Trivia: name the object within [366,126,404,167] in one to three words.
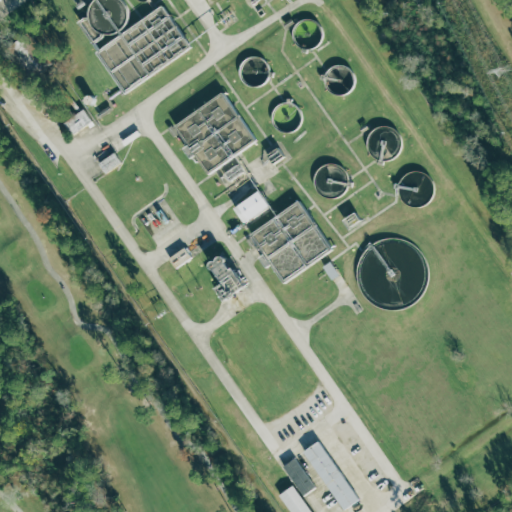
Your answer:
storage tank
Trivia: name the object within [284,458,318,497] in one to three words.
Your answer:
building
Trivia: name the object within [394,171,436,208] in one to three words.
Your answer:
storage tank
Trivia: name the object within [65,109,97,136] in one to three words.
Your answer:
building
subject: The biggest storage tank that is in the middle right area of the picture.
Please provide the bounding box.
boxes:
[357,238,430,312]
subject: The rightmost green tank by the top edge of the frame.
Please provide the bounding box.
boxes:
[293,19,325,55]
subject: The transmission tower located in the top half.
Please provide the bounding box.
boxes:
[488,64,511,87]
